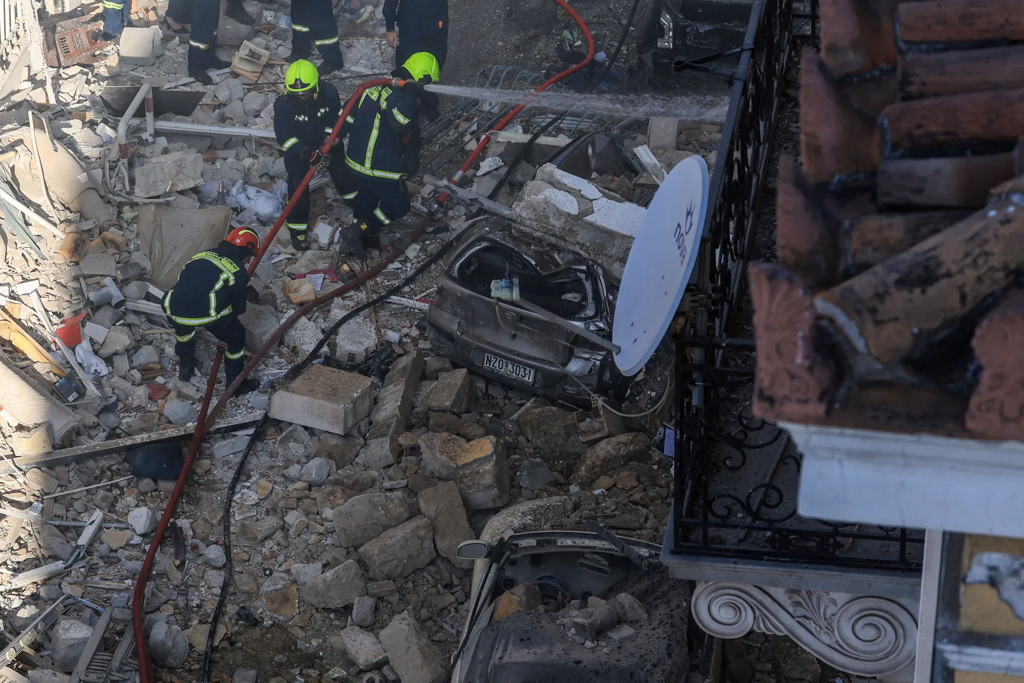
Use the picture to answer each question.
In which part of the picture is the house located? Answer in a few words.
bottom right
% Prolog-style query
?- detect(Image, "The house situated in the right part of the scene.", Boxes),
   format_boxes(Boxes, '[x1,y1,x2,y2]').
[763,427,1024,683]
